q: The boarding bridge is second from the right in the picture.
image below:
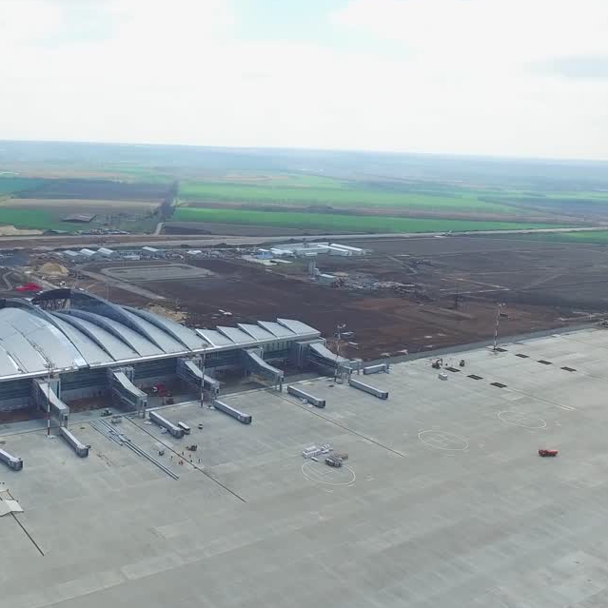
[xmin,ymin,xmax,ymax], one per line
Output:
[232,345,286,391]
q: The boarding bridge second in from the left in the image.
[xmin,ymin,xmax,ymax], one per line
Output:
[99,363,148,416]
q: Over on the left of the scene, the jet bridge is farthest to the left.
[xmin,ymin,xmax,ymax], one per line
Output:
[27,372,69,427]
